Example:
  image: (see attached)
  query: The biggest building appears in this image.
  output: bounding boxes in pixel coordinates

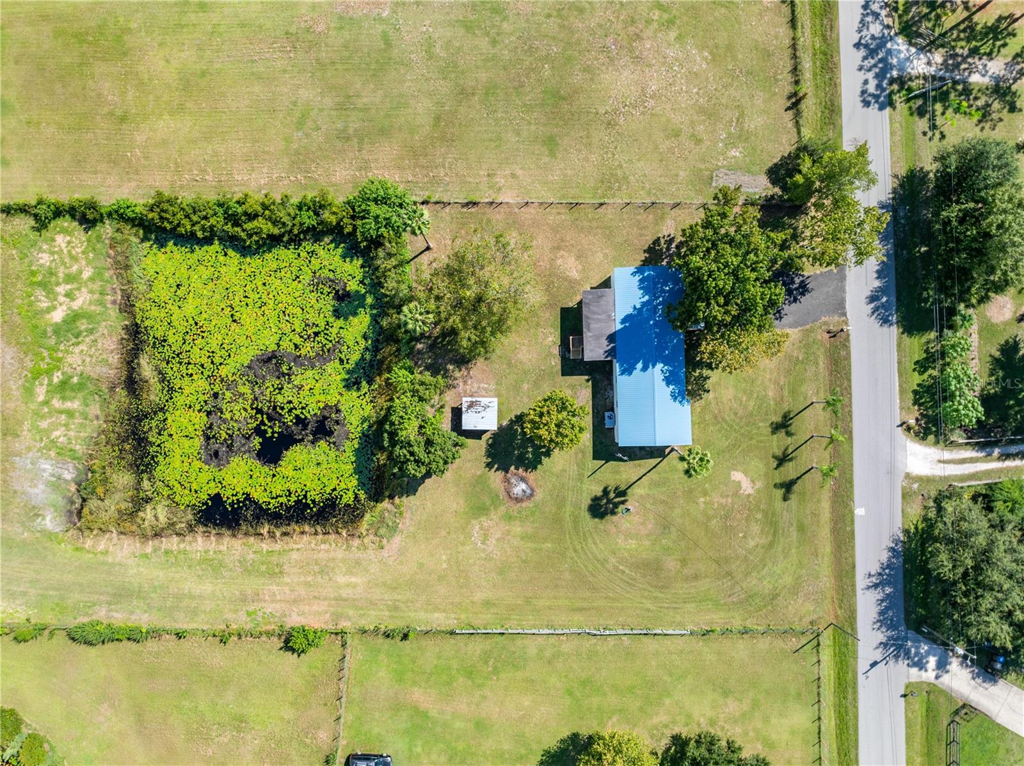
[580,265,703,448]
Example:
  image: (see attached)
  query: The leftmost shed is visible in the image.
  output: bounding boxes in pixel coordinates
[460,400,496,432]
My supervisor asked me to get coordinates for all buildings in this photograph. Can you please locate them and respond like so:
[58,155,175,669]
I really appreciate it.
[460,400,496,432]
[580,265,703,448]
